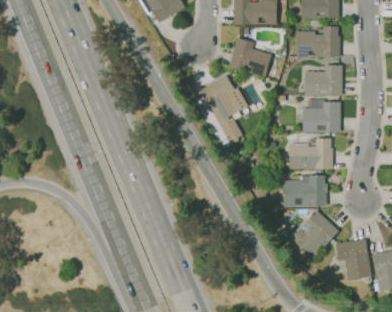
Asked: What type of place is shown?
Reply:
residential area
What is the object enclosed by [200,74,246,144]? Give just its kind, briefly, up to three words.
house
